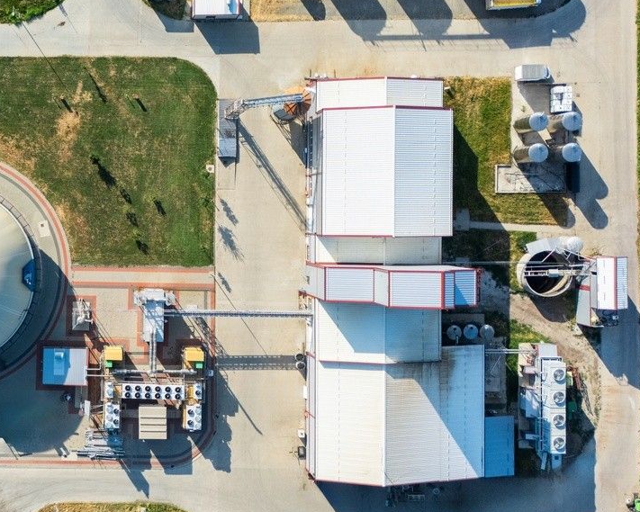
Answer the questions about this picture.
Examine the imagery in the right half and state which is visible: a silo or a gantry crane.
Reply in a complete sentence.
Looking in the right half, you will find a silo.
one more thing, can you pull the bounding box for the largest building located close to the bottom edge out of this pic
[307,342,485,491]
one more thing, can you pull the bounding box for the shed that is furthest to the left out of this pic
[44,347,89,386]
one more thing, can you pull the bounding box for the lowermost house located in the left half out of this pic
[138,402,166,439]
